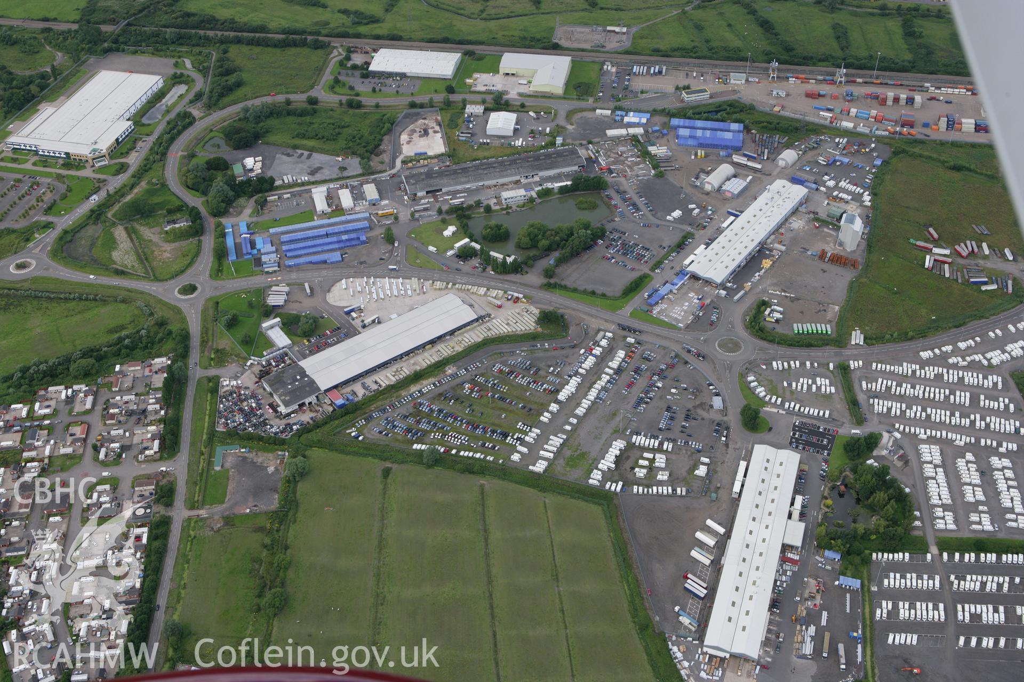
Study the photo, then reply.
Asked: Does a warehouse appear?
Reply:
Yes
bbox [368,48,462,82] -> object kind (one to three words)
building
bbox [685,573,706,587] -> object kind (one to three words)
vehicle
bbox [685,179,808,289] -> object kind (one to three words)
warehouse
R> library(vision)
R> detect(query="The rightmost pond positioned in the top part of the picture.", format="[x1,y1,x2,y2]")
[468,192,611,259]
